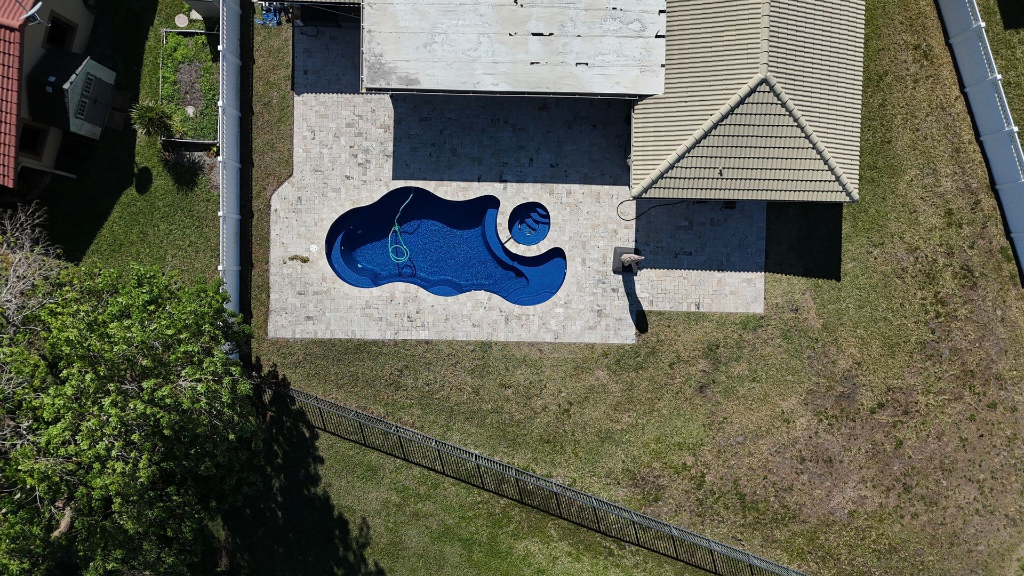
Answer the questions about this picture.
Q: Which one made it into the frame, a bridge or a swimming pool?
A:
swimming pool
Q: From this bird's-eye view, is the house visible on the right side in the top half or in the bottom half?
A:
top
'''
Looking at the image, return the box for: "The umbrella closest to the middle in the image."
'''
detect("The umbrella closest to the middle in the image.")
[613,247,651,275]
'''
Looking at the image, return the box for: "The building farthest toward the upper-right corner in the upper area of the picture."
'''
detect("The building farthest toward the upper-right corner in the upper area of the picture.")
[629,0,868,206]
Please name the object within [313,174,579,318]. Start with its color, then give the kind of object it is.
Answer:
blue swimming pool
